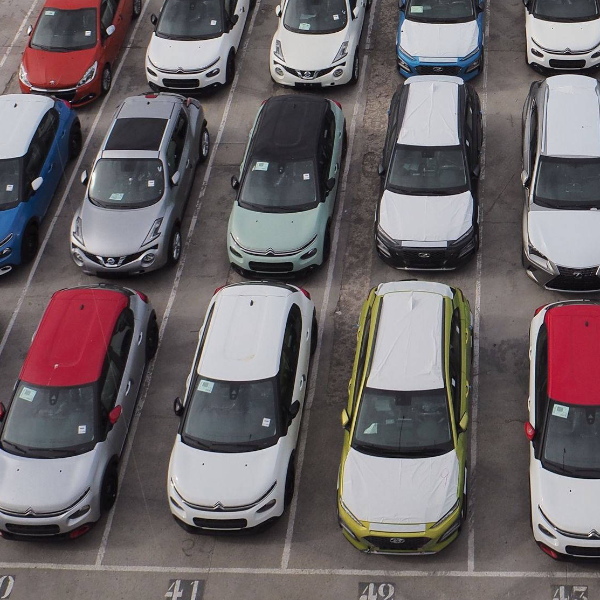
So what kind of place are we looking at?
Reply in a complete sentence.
It's a parking lot.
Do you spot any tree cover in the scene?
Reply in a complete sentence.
No, the scene doesn't show any tree cover.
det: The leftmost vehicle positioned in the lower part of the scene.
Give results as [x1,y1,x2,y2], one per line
[0,279,159,538]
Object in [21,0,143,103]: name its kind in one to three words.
car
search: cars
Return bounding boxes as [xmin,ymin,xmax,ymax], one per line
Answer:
[0,279,159,538]
[146,0,256,92]
[524,295,600,561]
[228,92,347,277]
[397,0,485,84]
[336,281,473,559]
[522,0,600,74]
[520,79,600,293]
[374,76,482,273]
[0,91,86,274]
[169,275,318,533]
[73,99,211,280]
[21,0,143,103]
[273,0,370,92]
